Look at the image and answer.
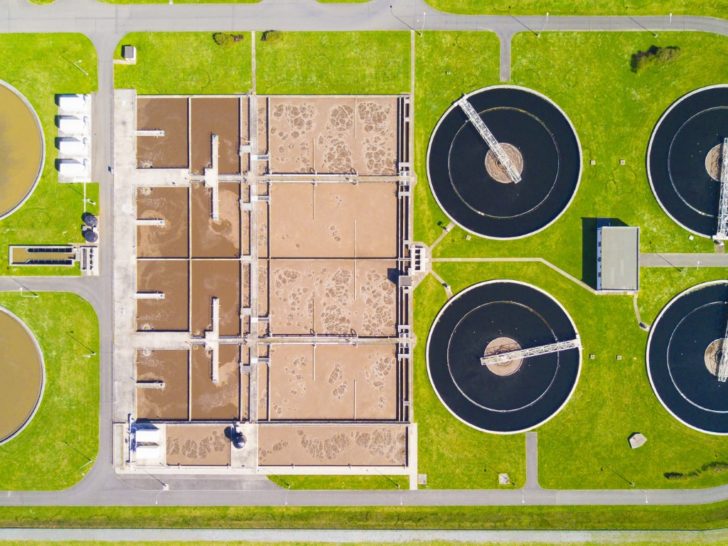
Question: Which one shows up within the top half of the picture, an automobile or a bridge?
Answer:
bridge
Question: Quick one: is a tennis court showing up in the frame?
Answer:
No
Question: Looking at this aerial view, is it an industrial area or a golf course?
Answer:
industrial area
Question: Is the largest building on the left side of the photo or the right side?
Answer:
right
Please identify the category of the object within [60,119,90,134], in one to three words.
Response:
building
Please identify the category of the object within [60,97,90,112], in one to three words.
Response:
building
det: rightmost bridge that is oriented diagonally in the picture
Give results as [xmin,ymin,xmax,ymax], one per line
[456,96,523,183]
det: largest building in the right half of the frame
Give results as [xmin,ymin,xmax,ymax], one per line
[597,227,640,291]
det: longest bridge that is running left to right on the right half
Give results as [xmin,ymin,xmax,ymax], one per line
[480,336,581,365]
